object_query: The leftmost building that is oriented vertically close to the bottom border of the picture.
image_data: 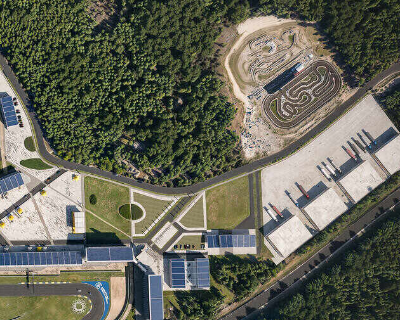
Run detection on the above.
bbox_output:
[144,275,163,320]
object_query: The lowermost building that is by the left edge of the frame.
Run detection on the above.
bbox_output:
[0,251,82,268]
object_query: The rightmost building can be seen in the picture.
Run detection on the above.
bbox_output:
[367,133,400,176]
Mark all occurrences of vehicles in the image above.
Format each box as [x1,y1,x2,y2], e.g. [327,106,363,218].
[324,164,336,176]
[330,161,340,172]
[360,137,370,149]
[354,140,364,152]
[265,208,277,221]
[345,148,357,161]
[296,184,308,199]
[320,168,331,181]
[365,132,376,144]
[271,205,282,218]
[287,194,298,207]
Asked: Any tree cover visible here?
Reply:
Yes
